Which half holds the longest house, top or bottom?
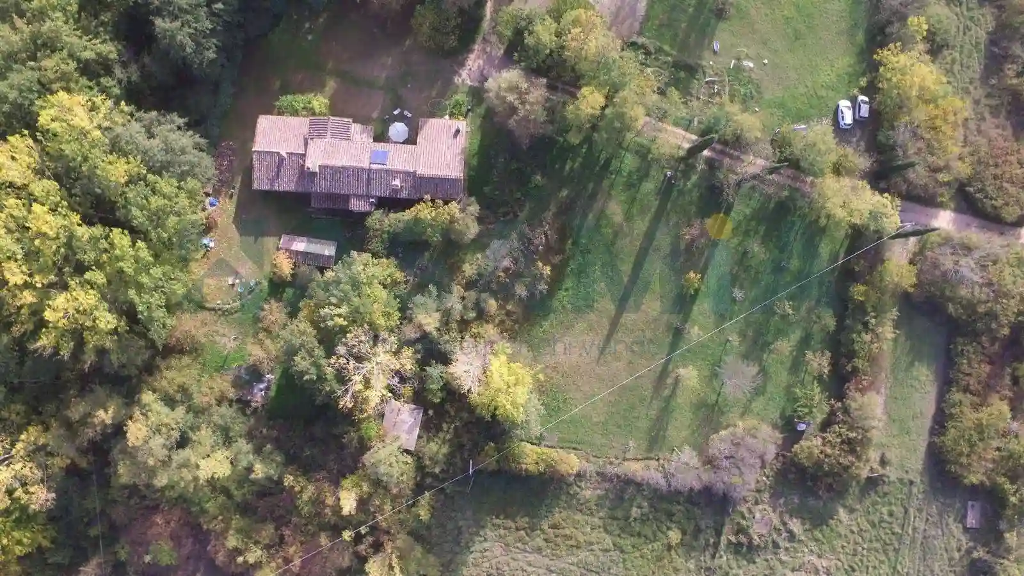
top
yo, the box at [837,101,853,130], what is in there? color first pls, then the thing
white car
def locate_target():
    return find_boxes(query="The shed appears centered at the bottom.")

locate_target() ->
[381,399,426,450]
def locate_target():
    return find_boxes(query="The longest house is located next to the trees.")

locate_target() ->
[252,114,468,214]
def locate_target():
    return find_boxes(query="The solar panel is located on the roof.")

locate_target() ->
[370,149,389,167]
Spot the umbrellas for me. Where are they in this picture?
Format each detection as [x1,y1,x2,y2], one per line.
[389,123,408,142]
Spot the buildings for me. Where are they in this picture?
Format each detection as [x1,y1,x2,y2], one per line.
[381,399,426,450]
[252,114,468,214]
[280,235,339,267]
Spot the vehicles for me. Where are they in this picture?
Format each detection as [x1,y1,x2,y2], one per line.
[854,96,869,121]
[837,101,853,130]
